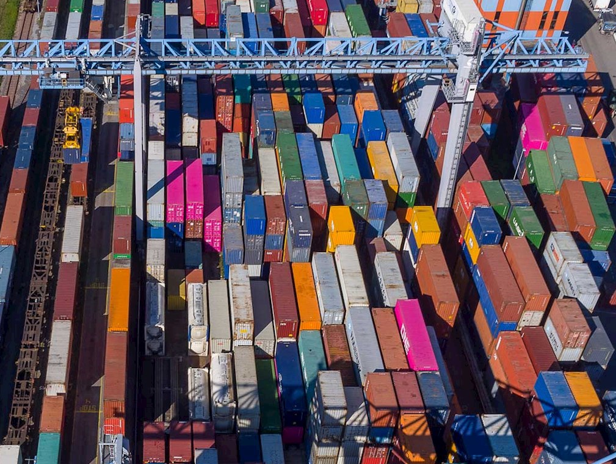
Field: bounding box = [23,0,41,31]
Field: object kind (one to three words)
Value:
rail car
